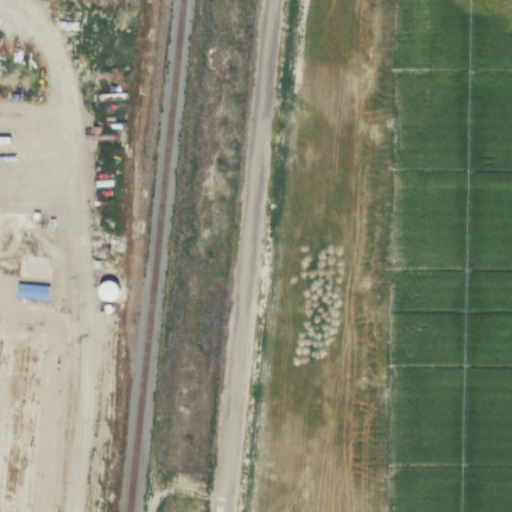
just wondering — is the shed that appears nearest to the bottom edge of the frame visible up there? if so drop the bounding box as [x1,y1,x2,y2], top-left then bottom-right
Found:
[17,283,49,300]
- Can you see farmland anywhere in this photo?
Yes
